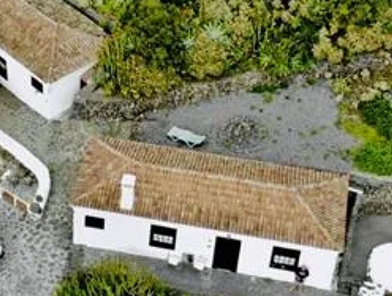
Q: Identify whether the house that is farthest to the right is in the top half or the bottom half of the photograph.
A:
bottom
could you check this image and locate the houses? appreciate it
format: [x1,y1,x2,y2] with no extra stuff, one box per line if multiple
[0,0,108,124]
[70,134,351,285]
